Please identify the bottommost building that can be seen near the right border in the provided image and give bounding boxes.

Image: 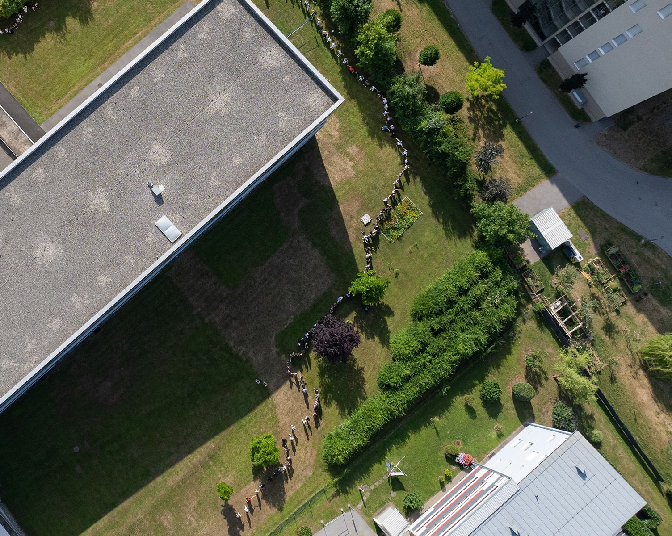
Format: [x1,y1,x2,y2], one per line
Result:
[479,419,647,536]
